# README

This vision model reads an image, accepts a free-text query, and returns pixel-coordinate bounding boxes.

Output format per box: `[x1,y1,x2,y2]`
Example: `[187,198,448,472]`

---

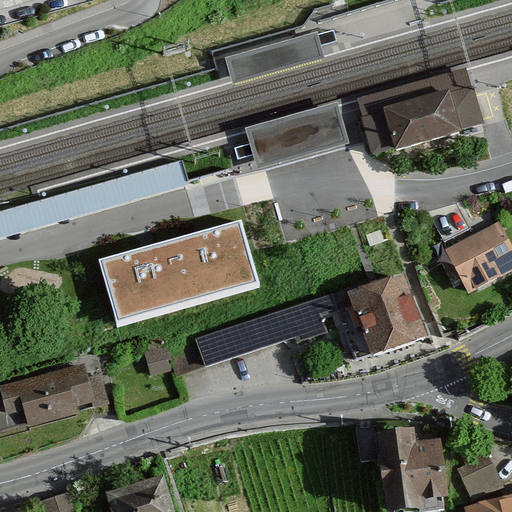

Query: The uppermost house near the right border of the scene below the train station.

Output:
[441,222,512,294]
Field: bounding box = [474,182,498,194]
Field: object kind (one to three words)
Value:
vehicle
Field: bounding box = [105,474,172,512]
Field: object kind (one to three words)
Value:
house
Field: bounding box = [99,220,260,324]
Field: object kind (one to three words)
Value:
building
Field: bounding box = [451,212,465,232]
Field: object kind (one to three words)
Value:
car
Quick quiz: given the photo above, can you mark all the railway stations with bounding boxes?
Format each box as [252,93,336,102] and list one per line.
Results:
[358,68,484,154]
